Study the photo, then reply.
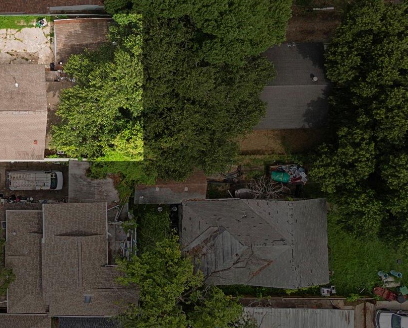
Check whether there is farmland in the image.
No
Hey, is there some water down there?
No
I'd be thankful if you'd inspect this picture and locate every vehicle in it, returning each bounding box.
[5,168,63,193]
[374,309,408,328]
